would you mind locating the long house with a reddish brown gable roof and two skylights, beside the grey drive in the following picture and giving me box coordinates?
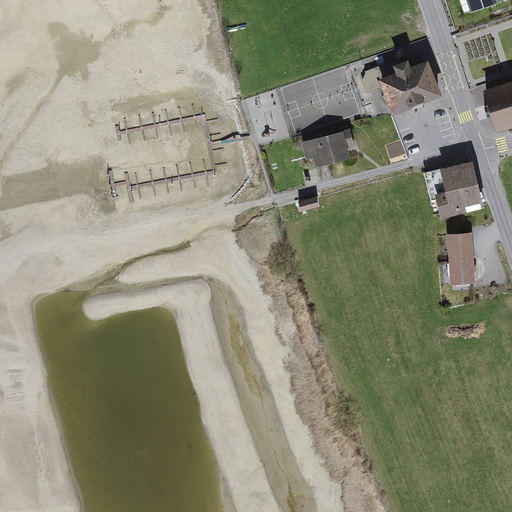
[446,233,477,285]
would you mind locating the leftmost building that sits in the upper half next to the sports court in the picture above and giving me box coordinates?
[302,129,353,166]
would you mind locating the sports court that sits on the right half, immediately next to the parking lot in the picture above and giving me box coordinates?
[276,66,360,137]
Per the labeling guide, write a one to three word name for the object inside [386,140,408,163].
shed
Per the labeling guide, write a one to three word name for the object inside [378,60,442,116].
building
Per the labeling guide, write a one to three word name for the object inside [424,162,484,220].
building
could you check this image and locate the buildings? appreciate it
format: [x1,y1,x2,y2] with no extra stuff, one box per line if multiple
[424,162,484,220]
[302,129,353,166]
[446,233,477,285]
[298,194,320,214]
[378,60,442,116]
[386,140,408,163]
[460,0,496,14]
[482,82,512,134]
